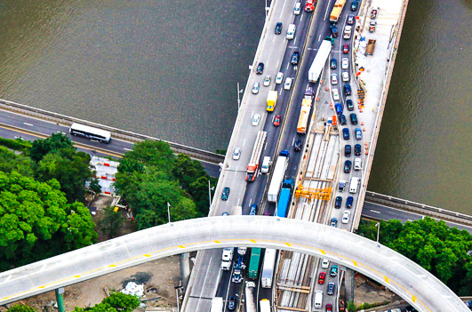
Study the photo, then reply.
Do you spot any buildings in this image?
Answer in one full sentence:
No, there appears to be no building in this shot.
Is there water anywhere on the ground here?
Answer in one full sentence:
Yes, there is water in the image.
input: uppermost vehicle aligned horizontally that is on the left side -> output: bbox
[70,125,111,145]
